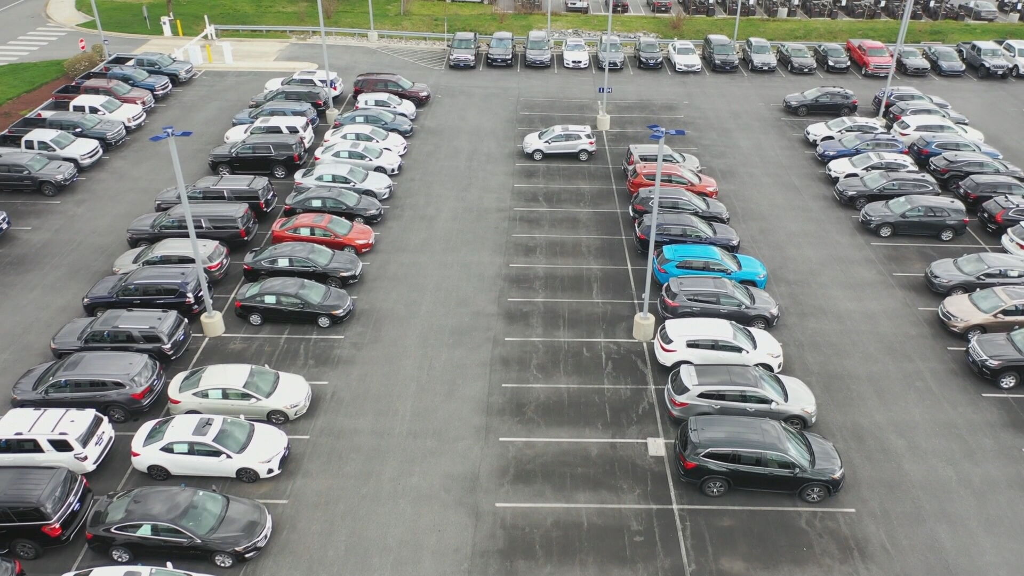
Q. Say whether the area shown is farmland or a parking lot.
parking lot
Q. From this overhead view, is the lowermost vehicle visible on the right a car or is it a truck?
car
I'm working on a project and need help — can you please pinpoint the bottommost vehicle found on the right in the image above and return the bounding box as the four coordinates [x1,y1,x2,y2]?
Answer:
[672,417,848,503]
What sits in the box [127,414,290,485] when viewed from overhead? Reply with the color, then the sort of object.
white car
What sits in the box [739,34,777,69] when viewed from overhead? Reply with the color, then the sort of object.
gray car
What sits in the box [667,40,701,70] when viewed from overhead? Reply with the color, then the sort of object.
white car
